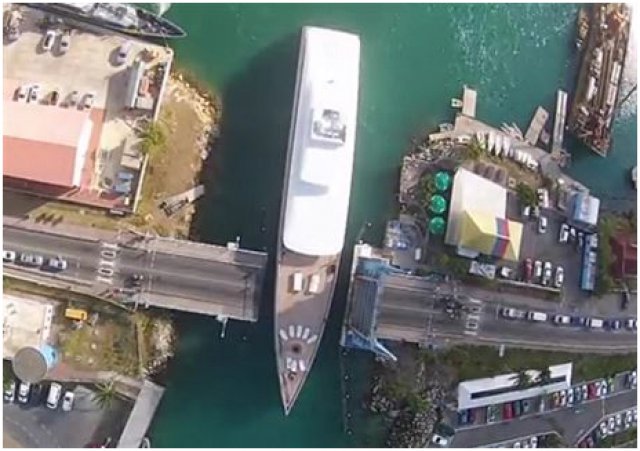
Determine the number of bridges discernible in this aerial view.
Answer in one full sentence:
In total, there are 2 bridges in the scene.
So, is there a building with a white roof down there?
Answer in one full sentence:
Yes, the photo shows a building with a white roof.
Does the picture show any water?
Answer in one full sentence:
Yes, water can be seen from above here.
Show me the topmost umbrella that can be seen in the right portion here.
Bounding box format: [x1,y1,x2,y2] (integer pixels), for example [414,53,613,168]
[432,172,449,190]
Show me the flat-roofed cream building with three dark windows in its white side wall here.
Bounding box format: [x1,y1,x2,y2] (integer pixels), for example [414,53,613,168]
[0,292,54,355]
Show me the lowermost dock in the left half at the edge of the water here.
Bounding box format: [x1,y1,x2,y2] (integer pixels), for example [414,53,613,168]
[158,186,206,211]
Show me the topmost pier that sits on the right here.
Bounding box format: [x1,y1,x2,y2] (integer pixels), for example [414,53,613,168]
[462,86,479,117]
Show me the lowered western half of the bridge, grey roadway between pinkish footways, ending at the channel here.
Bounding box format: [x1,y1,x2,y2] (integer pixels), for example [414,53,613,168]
[142,233,269,321]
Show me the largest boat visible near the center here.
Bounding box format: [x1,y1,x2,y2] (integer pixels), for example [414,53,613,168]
[274,29,361,413]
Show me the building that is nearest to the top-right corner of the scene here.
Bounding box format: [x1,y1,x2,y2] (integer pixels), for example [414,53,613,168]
[564,193,600,236]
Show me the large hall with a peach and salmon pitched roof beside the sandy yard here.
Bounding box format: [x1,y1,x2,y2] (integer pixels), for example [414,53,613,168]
[0,99,101,189]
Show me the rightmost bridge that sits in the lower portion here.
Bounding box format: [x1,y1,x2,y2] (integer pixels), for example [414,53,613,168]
[341,251,432,363]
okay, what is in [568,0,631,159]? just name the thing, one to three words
ship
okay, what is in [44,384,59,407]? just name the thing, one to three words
vehicle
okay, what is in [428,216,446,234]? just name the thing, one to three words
umbrella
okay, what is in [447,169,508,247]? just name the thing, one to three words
building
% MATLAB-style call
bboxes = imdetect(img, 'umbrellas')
[428,216,446,234]
[432,172,449,190]
[429,196,446,212]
